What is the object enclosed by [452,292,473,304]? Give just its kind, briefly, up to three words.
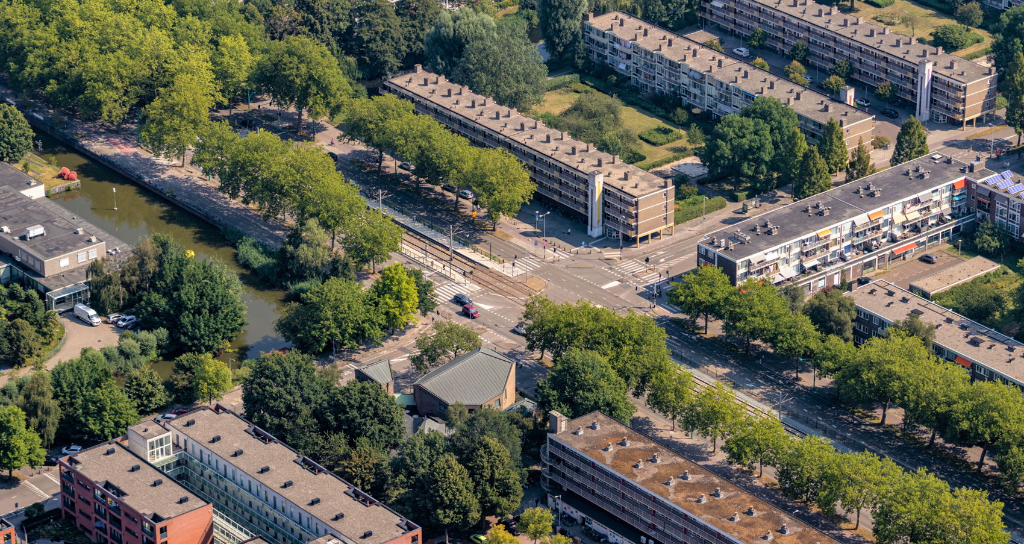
vehicle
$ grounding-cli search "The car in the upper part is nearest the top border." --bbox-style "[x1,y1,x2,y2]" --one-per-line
[732,46,748,58]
